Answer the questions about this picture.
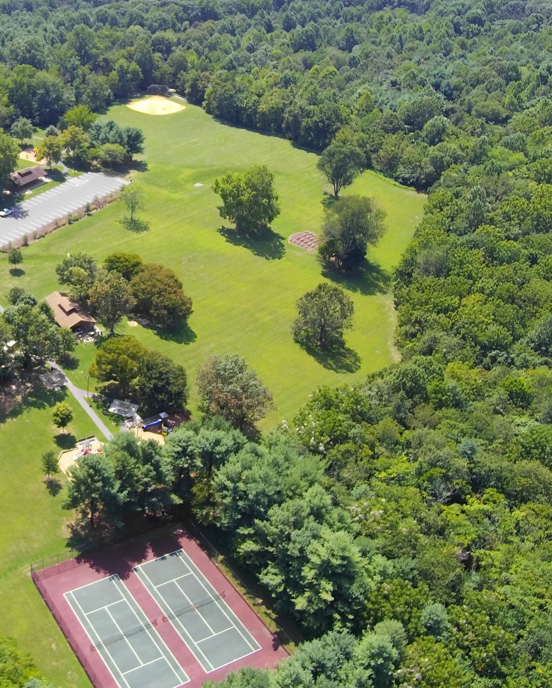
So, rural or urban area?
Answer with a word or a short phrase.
rural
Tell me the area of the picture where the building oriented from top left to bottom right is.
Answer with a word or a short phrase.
left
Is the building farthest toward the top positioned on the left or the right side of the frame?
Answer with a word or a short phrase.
left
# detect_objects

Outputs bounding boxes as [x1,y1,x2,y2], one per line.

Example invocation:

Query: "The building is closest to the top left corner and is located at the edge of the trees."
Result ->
[8,165,53,191]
